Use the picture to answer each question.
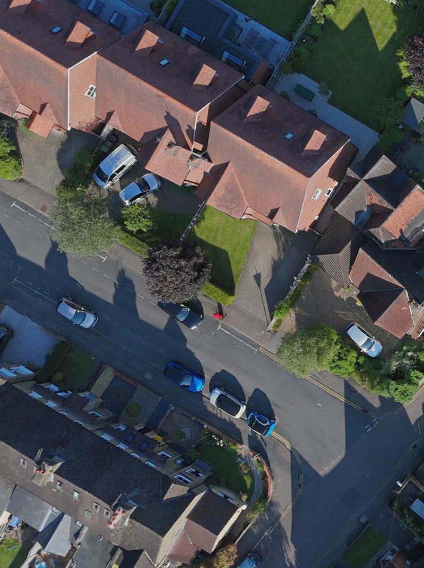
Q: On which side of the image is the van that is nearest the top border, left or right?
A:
left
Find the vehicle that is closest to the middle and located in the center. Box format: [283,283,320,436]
[156,297,203,329]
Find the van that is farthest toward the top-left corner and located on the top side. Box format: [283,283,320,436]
[93,143,137,189]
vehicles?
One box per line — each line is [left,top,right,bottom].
[0,324,16,355]
[118,173,164,207]
[238,552,262,568]
[344,320,383,356]
[163,363,205,391]
[54,298,100,329]
[244,411,277,436]
[210,389,247,419]
[156,297,203,329]
[93,143,137,189]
